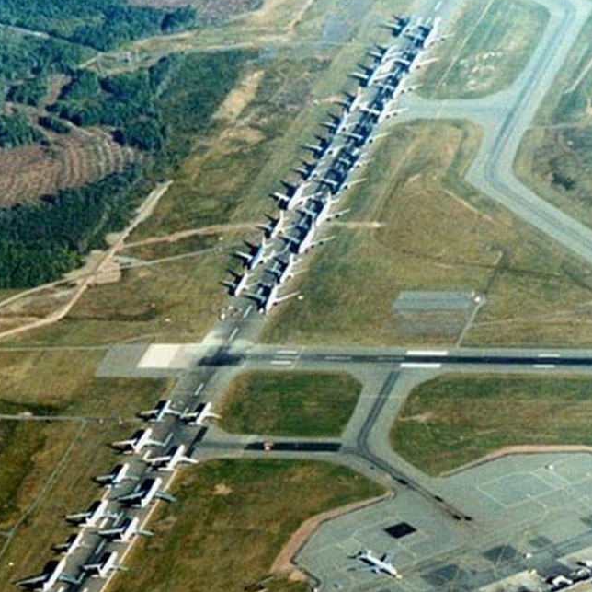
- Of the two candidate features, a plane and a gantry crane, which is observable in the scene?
plane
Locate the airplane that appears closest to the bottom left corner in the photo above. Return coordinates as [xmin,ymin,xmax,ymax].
[20,557,80,587]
